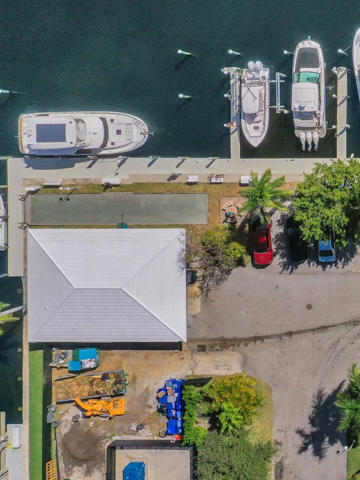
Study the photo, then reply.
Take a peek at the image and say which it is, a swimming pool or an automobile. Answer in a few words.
automobile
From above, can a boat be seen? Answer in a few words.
Yes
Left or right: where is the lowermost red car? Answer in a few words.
right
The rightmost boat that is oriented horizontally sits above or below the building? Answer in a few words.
above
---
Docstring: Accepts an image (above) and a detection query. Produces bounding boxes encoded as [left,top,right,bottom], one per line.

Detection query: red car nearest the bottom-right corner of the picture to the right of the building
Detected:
[249,220,274,267]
